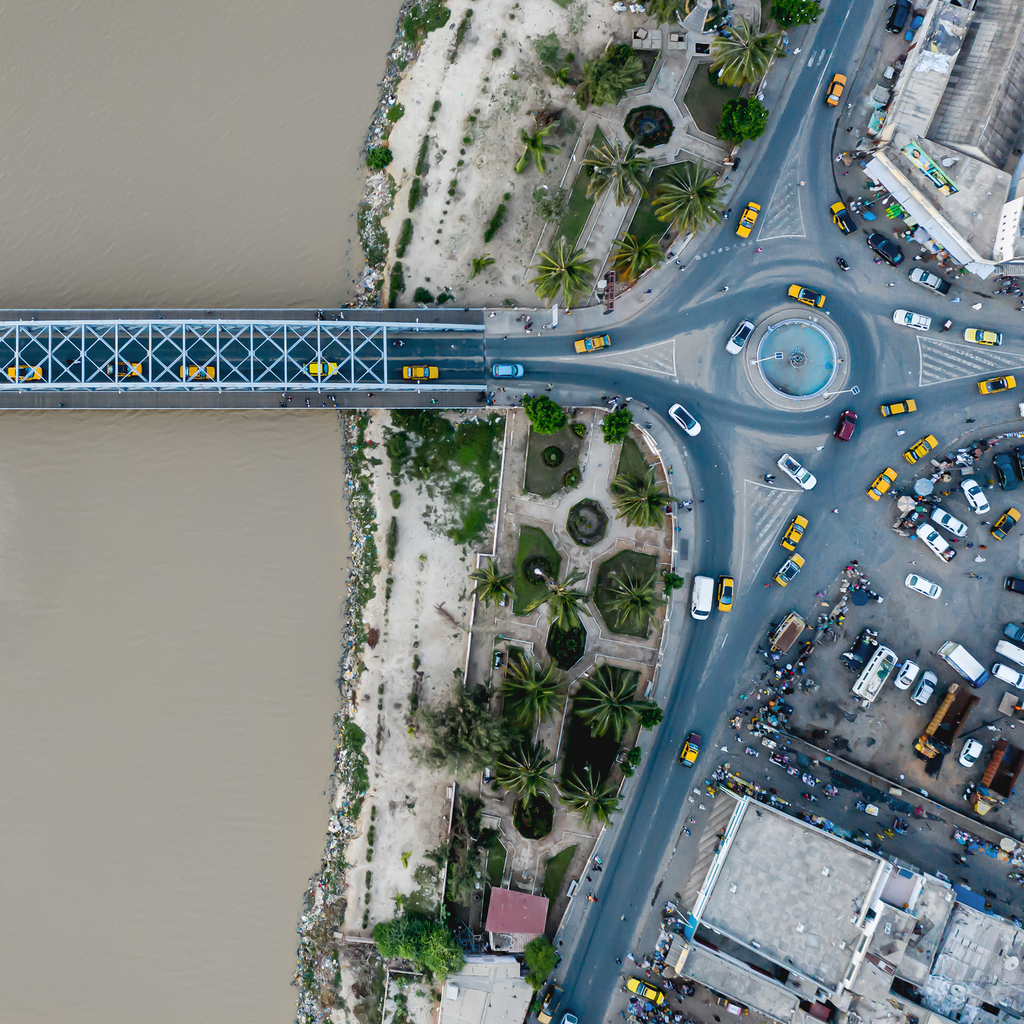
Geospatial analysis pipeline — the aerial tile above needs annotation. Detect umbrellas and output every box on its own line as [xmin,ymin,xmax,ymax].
[897,495,916,513]
[662,966,677,980]
[914,477,933,497]
[999,836,1016,852]
[850,587,869,605]
[779,701,795,717]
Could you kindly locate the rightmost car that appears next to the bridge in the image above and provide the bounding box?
[491,362,524,378]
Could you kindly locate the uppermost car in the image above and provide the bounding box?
[886,0,916,37]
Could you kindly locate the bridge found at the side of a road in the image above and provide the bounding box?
[0,307,486,410]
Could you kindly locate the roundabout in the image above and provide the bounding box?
[747,307,850,410]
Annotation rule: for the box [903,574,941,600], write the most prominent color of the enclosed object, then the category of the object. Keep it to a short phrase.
white car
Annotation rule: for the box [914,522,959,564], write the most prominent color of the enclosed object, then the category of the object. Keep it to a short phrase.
white truck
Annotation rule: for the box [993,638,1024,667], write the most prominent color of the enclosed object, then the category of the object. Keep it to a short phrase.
white van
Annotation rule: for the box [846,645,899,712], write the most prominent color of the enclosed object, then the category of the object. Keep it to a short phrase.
white bus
